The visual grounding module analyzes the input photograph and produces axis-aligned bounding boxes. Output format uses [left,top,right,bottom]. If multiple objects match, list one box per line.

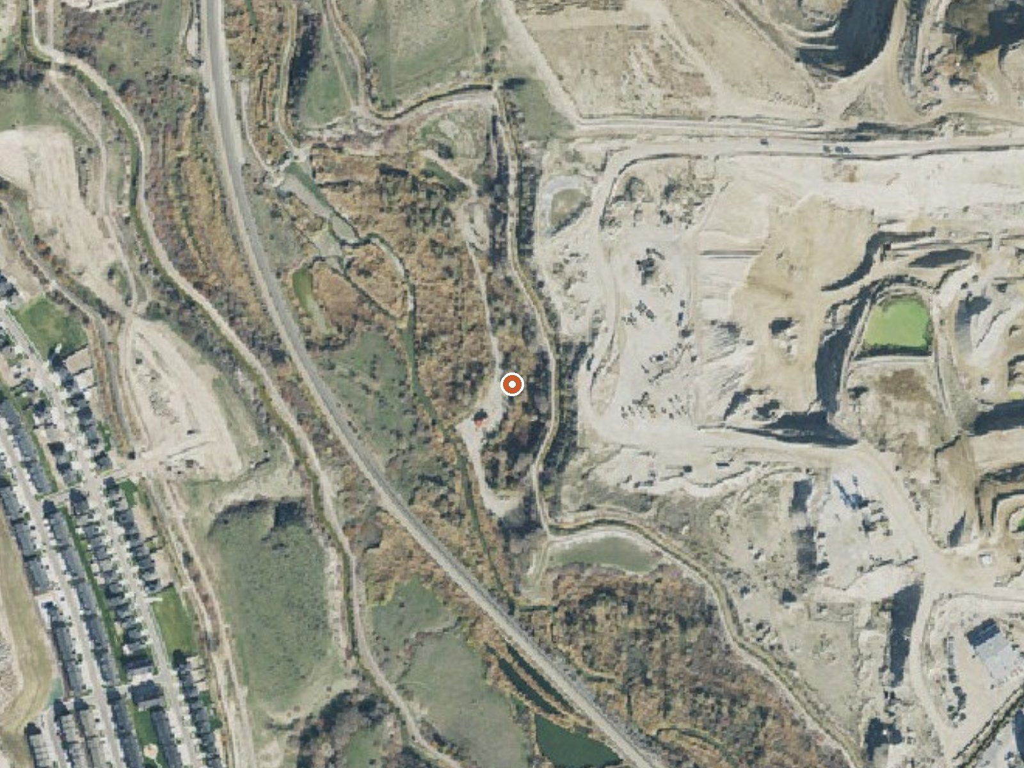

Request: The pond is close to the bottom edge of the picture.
[536,715,620,768]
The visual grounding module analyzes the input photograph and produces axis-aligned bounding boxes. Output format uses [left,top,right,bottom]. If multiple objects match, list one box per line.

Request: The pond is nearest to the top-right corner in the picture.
[864,297,930,348]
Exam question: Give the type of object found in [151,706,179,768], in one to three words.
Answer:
house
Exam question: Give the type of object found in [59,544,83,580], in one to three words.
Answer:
house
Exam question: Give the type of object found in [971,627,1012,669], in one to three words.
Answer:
building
